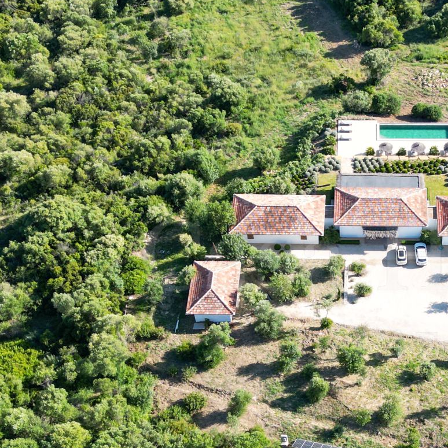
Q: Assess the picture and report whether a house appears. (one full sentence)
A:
Yes, the frame does contain a house.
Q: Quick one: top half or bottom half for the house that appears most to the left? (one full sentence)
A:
The bottom half of the photo is where the house that appears most to the left is.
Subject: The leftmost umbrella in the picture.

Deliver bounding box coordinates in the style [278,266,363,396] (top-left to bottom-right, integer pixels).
[376,143,395,157]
